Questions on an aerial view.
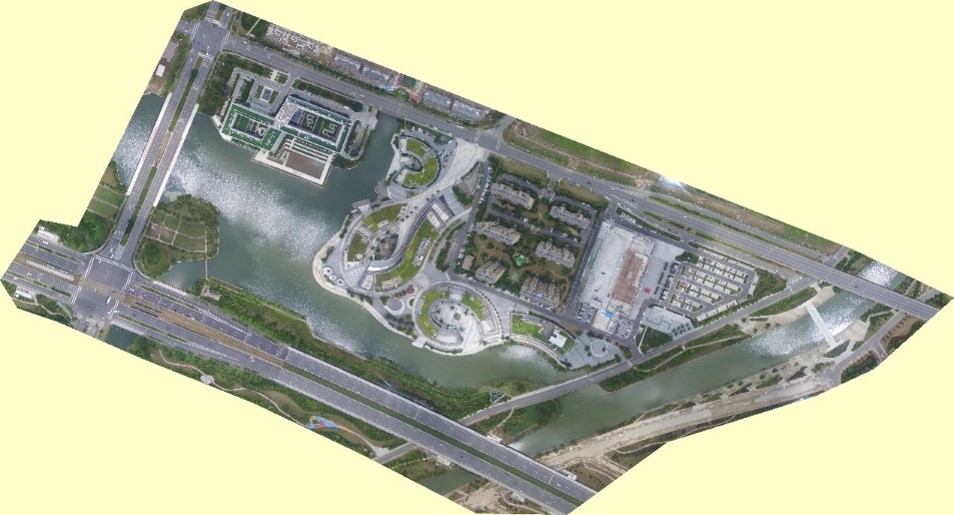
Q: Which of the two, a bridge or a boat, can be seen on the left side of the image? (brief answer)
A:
bridge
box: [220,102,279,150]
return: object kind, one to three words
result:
building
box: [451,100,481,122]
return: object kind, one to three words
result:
shed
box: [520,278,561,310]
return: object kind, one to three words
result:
building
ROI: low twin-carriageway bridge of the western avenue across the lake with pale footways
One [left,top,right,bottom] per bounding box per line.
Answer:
[127,90,198,203]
